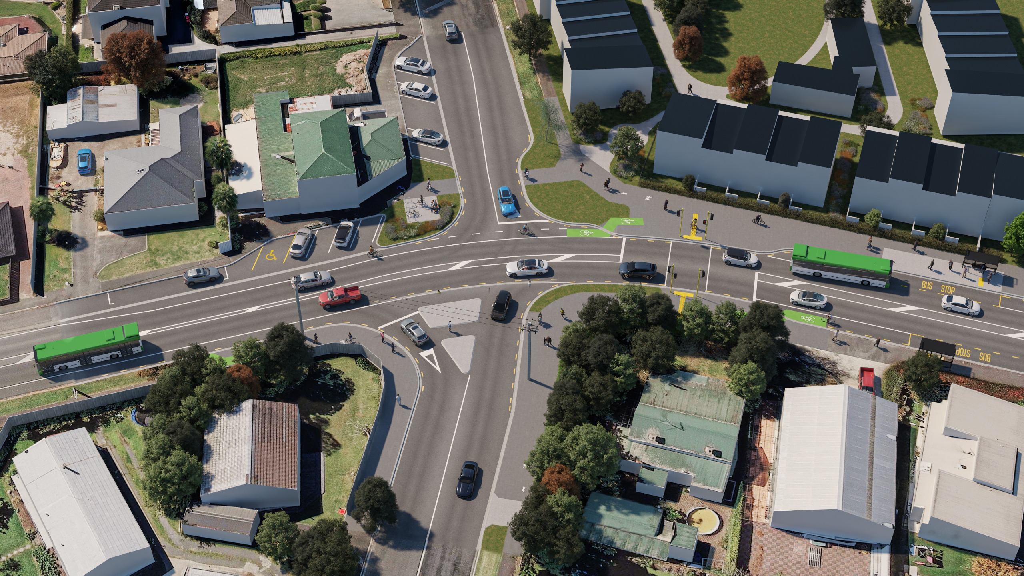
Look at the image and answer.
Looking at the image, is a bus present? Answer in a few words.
Yes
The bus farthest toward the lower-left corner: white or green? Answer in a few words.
green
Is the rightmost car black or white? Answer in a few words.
white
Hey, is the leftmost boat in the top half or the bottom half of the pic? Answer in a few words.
top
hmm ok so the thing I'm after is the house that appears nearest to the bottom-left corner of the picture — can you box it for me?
[11,426,154,576]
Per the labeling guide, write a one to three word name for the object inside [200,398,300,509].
house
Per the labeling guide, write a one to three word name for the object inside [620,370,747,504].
building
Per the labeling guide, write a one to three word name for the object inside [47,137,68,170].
boat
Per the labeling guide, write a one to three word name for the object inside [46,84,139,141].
shed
